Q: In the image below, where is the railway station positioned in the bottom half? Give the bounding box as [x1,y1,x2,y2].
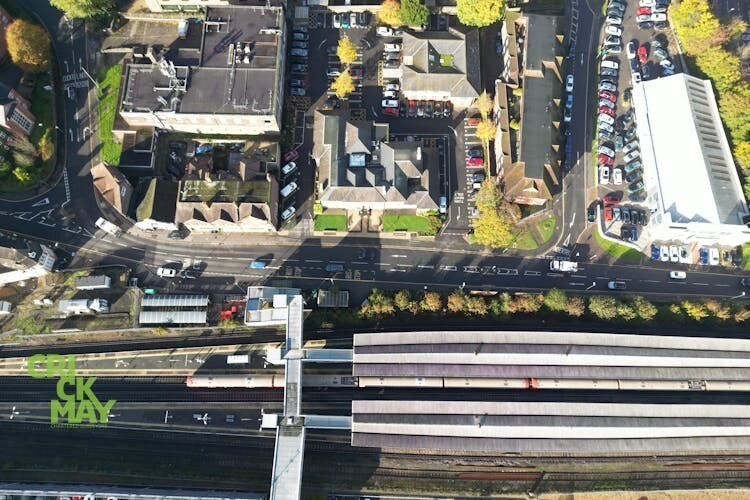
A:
[0,331,750,451]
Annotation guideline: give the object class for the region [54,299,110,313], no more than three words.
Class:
vehicle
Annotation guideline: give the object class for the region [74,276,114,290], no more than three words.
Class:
building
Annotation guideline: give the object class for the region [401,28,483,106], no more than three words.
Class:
house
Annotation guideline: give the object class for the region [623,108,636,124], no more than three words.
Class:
vehicle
